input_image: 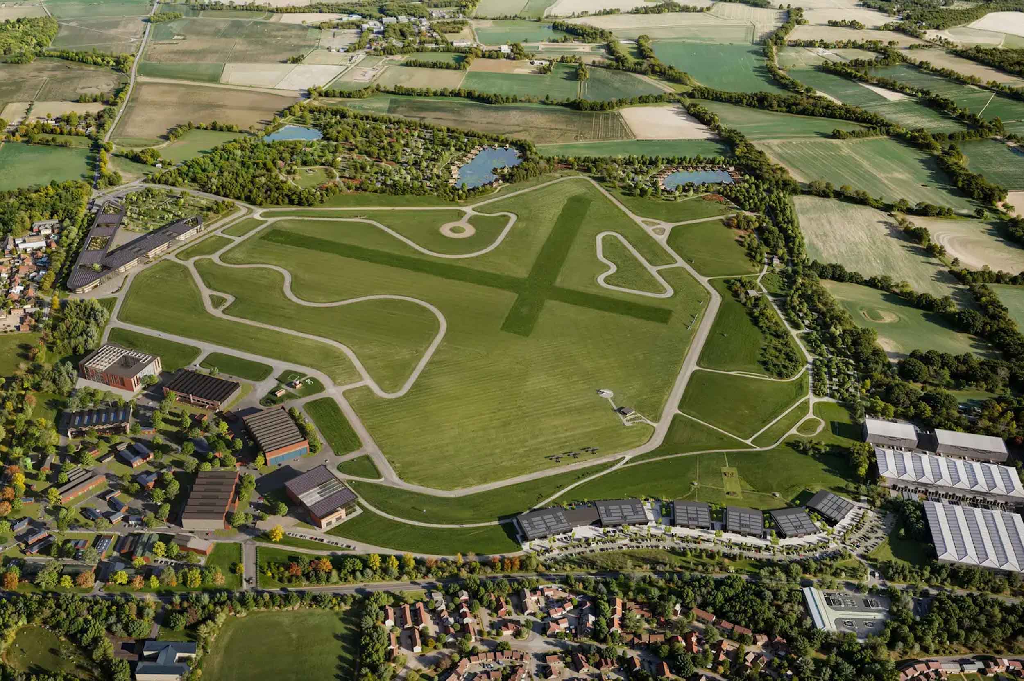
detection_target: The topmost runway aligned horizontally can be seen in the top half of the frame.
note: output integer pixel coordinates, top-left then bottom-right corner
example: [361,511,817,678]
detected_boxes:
[259,229,520,288]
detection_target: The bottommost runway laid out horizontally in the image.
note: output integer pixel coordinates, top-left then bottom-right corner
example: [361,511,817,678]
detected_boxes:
[503,274,673,324]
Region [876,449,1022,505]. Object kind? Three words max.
building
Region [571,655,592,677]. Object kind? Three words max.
house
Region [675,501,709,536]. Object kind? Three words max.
shed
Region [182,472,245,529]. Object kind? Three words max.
hangar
